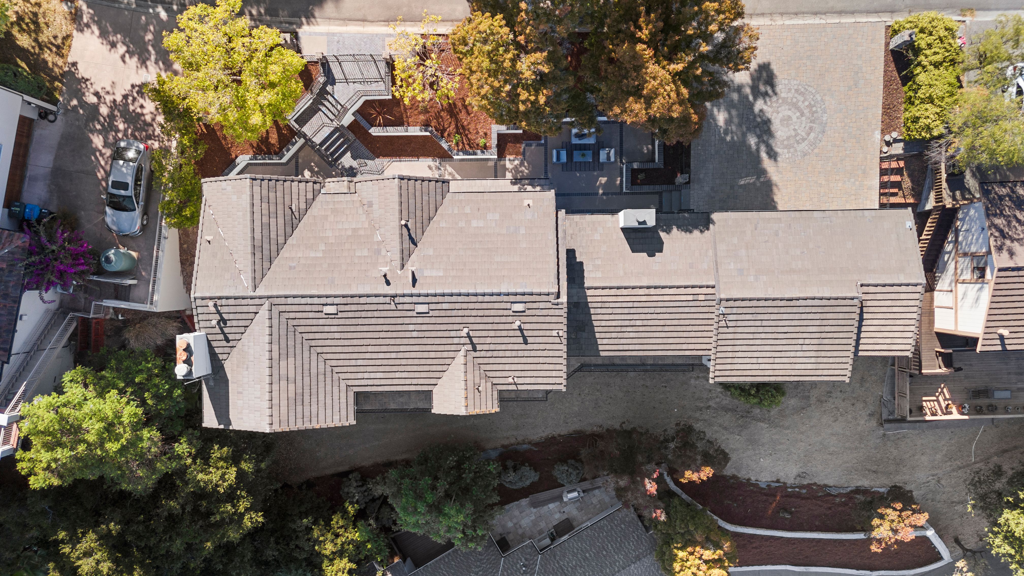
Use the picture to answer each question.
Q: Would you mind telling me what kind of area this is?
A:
residential area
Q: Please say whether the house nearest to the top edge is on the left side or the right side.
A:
left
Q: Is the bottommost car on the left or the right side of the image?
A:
left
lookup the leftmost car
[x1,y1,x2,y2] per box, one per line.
[102,139,156,239]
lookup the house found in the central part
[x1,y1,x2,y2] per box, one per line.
[176,174,927,433]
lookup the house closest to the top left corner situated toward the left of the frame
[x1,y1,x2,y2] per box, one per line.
[0,86,61,230]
